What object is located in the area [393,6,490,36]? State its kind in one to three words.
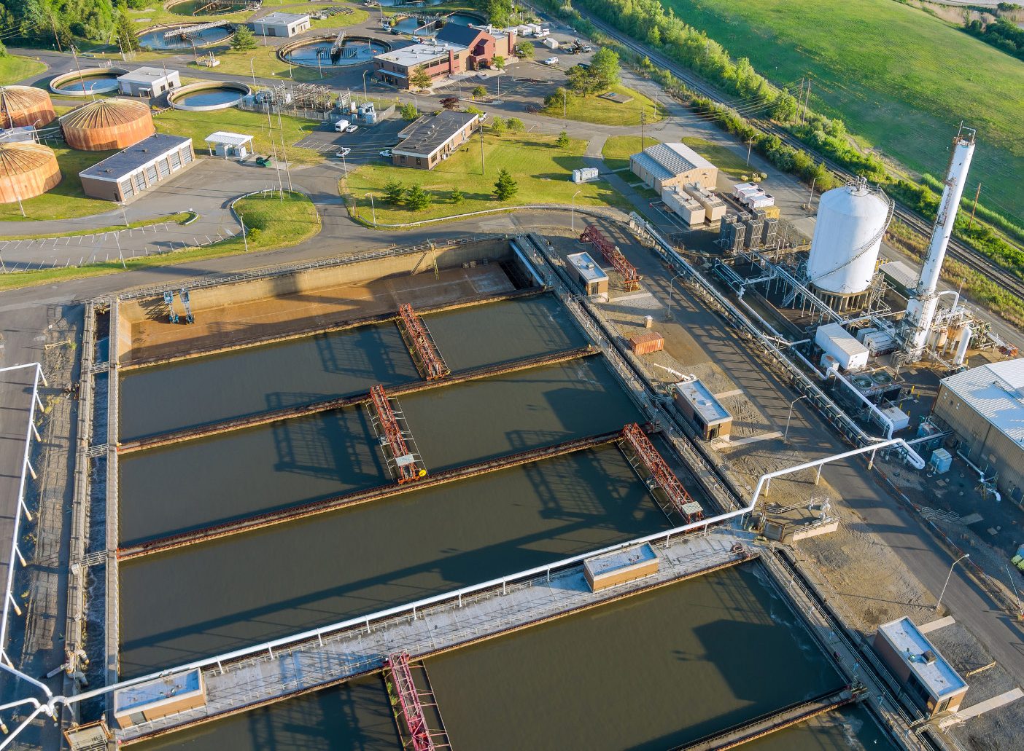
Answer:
storage tank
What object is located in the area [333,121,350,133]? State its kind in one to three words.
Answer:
vehicle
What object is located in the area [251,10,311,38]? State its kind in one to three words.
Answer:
building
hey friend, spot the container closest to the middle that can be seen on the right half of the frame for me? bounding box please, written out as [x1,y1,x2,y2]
[629,327,671,355]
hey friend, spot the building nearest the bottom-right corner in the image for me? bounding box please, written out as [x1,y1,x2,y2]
[874,615,967,717]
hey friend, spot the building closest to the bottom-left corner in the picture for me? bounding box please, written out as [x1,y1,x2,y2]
[114,662,209,728]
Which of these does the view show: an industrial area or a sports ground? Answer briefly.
industrial area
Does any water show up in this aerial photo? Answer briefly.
Yes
